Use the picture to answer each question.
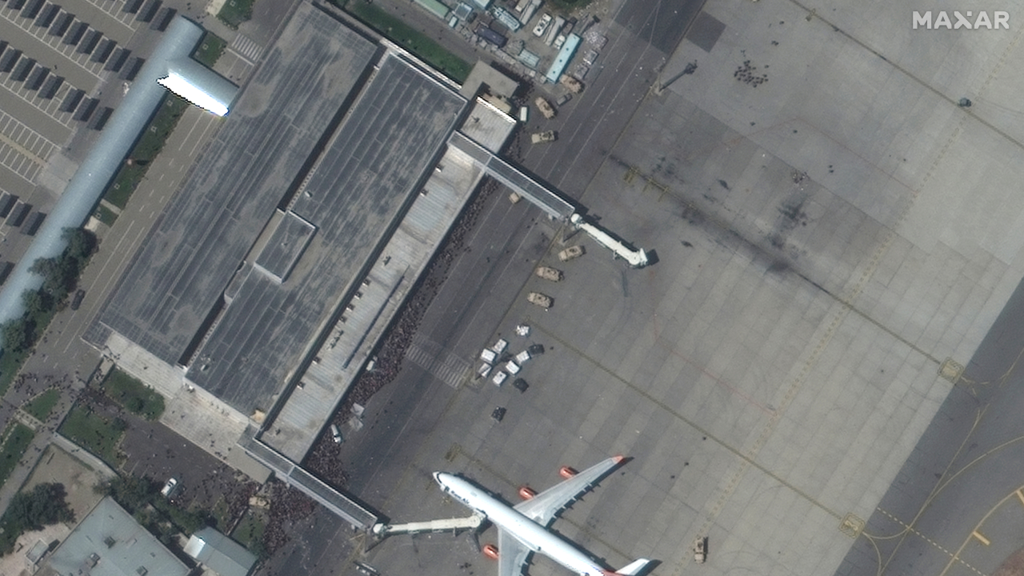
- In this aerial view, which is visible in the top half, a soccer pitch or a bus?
bus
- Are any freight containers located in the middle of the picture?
No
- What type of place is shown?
airport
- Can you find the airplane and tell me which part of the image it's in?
bottom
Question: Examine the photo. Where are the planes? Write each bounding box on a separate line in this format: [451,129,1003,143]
[434,457,653,576]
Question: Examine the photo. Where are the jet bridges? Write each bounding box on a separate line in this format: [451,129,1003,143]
[372,507,492,542]
[570,213,653,269]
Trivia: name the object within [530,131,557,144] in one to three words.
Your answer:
vehicle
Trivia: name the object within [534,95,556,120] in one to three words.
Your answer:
truck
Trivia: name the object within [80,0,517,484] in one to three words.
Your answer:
building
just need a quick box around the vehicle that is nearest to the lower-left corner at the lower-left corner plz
[160,477,178,497]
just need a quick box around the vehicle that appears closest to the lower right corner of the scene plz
[694,534,706,563]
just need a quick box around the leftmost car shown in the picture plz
[71,290,85,309]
